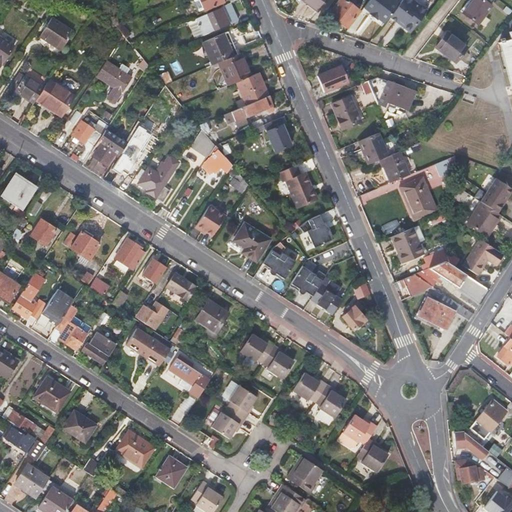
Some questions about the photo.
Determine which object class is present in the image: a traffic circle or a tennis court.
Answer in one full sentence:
The image shows a traffic circle.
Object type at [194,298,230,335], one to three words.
house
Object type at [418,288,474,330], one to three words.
building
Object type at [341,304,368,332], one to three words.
house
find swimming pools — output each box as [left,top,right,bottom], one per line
[272,279,286,292]
[170,60,183,76]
